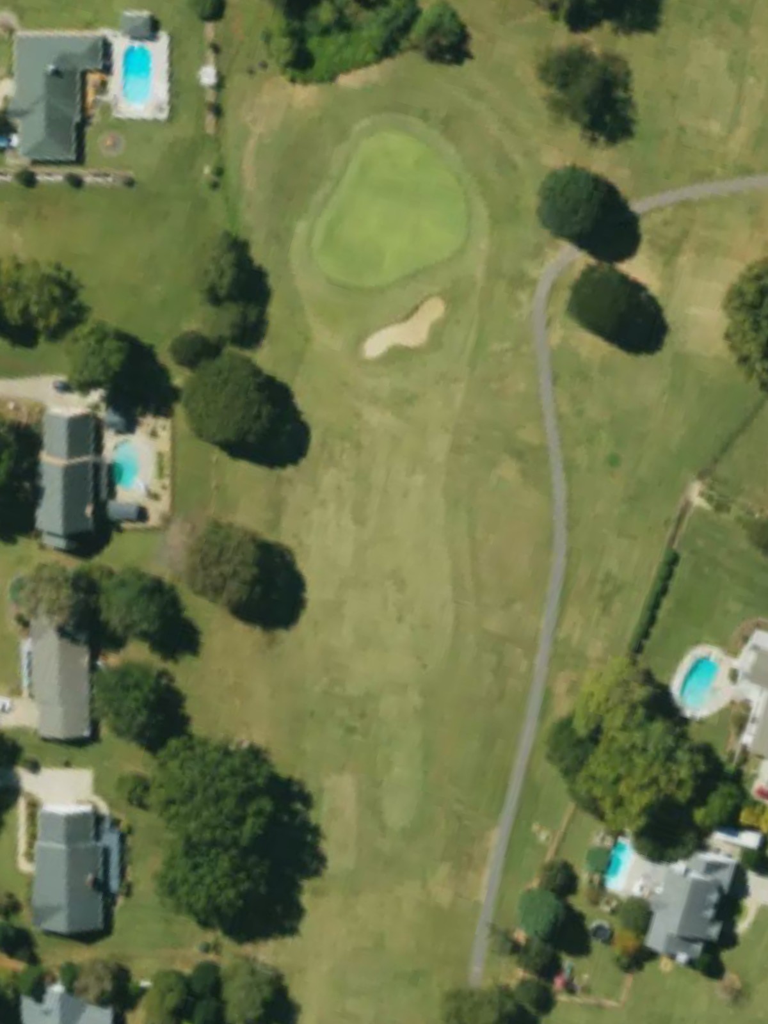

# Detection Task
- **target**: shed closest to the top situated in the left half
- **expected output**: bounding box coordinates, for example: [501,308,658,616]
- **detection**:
[122,10,151,38]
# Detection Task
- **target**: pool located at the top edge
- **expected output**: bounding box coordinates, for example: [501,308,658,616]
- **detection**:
[96,32,169,119]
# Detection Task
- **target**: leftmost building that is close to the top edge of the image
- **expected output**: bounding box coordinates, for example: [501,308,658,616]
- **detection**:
[10,33,103,160]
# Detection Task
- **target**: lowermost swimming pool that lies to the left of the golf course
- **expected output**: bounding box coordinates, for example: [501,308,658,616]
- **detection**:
[104,432,156,502]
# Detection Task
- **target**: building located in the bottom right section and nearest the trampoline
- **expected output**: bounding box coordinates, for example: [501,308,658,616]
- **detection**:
[644,848,737,963]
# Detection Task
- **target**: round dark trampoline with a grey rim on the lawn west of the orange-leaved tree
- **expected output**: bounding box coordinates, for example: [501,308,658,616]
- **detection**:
[592,921,611,939]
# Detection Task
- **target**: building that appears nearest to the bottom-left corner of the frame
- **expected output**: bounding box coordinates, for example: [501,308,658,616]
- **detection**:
[16,980,114,1024]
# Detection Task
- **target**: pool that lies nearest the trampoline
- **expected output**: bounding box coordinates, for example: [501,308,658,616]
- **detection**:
[599,833,637,899]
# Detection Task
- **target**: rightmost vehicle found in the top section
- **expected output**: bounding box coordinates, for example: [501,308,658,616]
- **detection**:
[55,380,81,393]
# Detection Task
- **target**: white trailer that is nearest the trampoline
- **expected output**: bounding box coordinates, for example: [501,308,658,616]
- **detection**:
[711,825,762,848]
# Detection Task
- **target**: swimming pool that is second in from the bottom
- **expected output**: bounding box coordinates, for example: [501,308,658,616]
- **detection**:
[671,645,745,719]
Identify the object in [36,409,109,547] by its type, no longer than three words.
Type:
house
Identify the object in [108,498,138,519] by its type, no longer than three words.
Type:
shed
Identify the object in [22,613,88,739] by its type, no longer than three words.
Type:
house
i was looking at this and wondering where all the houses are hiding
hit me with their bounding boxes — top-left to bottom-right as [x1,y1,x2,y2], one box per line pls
[733,628,768,767]
[36,409,109,547]
[32,804,120,936]
[10,33,103,160]
[22,613,88,739]
[644,848,737,963]
[16,980,114,1024]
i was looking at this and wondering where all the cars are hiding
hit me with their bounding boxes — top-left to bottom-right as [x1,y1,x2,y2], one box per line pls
[0,699,11,711]
[55,380,81,393]
[0,136,18,148]
[757,787,768,800]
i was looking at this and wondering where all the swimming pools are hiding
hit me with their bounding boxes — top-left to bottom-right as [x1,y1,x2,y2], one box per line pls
[671,645,745,719]
[96,32,169,119]
[104,432,156,502]
[599,833,637,899]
